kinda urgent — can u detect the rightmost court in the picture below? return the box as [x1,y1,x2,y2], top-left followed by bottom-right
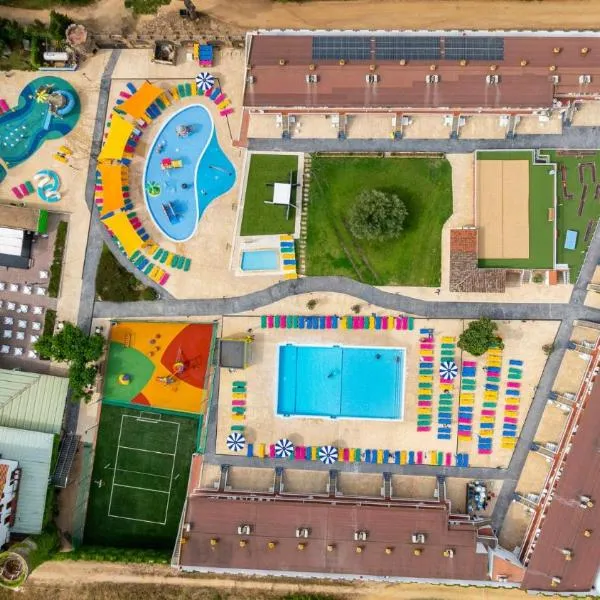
[476,149,558,269]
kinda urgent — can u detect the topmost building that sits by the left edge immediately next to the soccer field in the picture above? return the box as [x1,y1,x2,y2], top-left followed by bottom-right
[0,364,77,434]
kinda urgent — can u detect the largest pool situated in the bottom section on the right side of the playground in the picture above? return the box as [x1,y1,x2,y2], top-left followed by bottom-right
[274,342,407,422]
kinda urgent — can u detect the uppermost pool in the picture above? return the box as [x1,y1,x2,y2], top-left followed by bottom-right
[0,76,80,169]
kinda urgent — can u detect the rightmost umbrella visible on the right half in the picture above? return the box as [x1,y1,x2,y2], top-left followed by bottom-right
[439,362,457,379]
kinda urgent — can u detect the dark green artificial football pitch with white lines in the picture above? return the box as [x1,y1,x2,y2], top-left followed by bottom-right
[84,410,203,550]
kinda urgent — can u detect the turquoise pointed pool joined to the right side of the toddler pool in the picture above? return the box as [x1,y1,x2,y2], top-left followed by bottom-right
[199,131,236,217]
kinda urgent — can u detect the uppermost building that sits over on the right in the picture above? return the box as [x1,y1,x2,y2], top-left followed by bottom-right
[243,31,600,115]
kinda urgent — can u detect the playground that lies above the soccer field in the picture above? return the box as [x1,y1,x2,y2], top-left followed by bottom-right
[105,322,212,408]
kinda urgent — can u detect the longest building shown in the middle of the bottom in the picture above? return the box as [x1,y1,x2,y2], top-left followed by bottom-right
[172,479,493,587]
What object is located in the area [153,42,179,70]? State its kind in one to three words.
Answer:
shed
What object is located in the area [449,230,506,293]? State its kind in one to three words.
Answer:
building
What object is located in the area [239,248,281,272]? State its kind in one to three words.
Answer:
swimming pool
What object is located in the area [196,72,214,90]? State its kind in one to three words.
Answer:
umbrella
